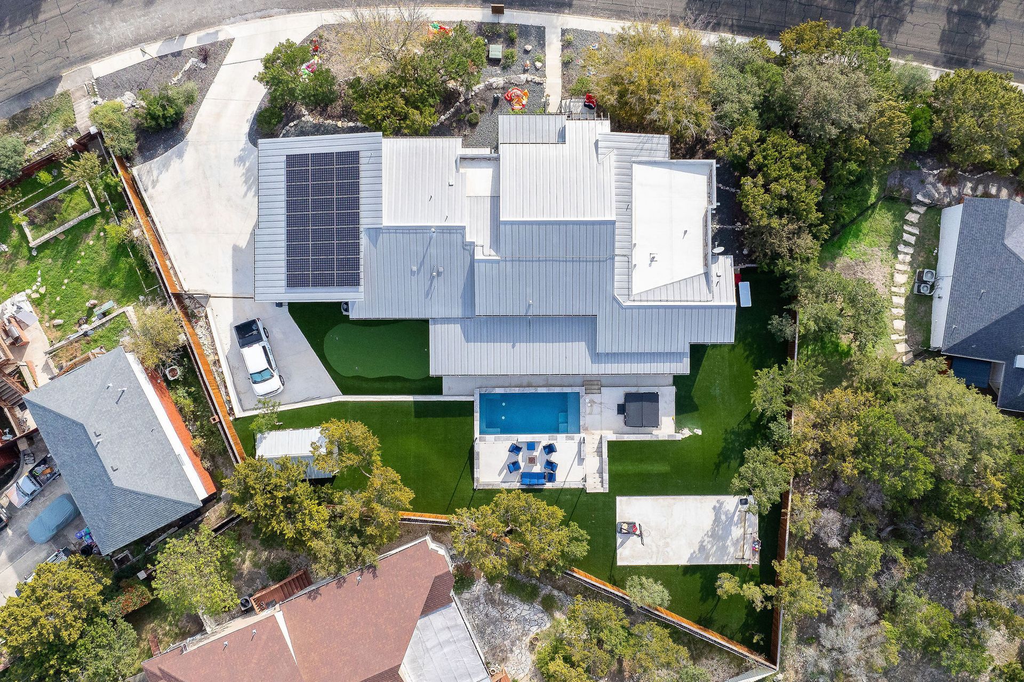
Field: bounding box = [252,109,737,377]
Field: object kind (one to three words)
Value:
house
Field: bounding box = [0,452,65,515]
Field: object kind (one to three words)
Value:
truck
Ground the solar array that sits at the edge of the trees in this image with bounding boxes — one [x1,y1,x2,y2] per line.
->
[286,152,360,289]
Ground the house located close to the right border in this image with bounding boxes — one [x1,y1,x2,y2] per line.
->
[918,197,1024,413]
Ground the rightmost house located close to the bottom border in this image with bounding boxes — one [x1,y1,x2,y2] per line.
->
[141,530,492,682]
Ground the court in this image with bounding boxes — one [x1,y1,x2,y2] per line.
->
[617,496,758,566]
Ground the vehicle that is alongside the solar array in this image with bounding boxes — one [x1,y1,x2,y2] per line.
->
[232,315,286,400]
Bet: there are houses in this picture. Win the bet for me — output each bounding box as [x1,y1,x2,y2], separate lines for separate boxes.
[918,197,1024,413]
[141,530,492,682]
[252,109,737,377]
[23,346,222,556]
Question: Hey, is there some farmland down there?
No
